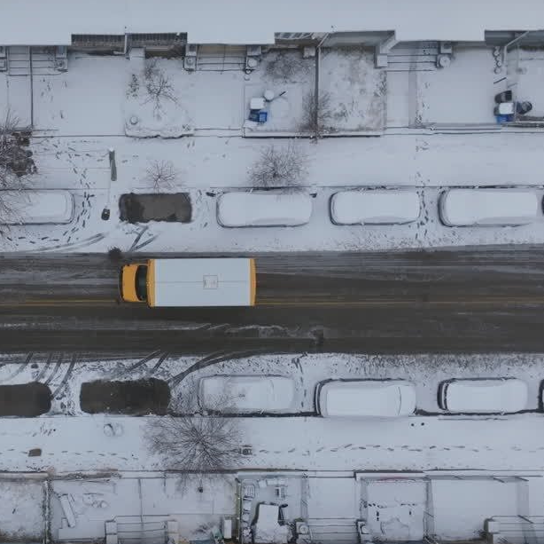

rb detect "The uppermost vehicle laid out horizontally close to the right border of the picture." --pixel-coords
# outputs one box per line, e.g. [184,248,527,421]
[433,187,540,228]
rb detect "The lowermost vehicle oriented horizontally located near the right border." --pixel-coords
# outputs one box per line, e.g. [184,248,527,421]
[432,376,528,417]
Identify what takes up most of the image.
paved ground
